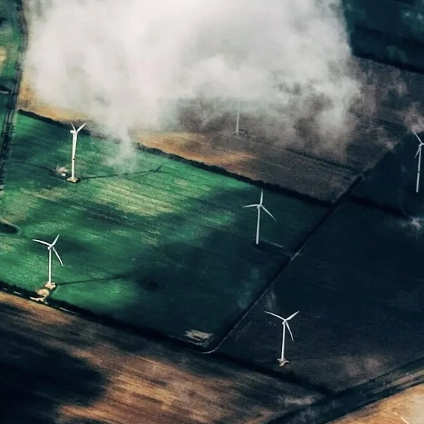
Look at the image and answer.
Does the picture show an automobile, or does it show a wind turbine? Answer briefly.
wind turbine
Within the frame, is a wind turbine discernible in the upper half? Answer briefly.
Yes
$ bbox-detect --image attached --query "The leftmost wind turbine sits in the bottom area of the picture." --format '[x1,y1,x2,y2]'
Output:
[34,233,61,283]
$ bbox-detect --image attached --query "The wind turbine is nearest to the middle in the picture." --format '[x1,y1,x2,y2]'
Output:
[244,191,275,244]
